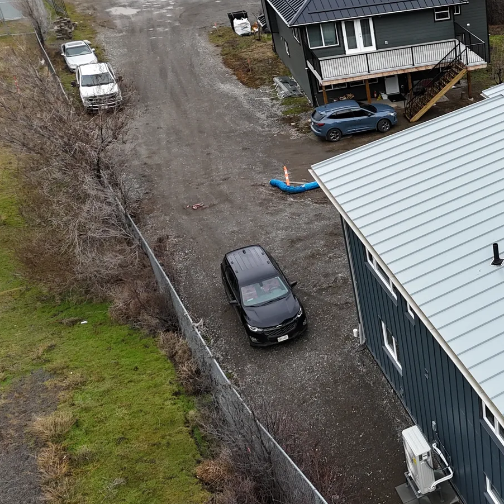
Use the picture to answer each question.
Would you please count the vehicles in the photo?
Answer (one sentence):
In total, there are 4 vehicles in the scene.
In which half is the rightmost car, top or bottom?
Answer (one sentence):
It is in the top half that the rightmost car appears.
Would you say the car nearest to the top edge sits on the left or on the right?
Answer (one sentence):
The car nearest to the top edge is on the left side of the image.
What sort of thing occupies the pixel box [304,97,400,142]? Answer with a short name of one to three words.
car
